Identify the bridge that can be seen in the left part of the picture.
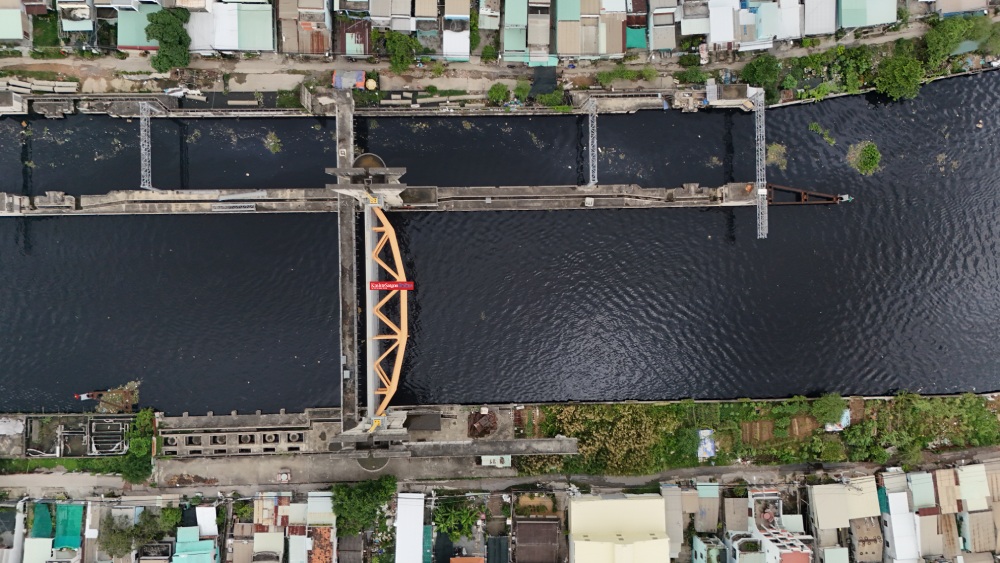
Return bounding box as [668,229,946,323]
[338,99,361,429]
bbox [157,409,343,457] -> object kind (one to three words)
building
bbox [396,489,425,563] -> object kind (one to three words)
house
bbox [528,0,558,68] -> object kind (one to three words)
house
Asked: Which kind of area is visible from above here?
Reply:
residential area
